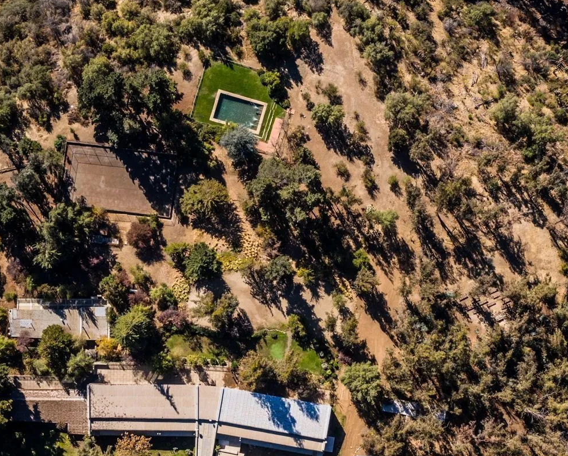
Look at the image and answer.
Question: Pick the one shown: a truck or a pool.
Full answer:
This aerial view contains a pool.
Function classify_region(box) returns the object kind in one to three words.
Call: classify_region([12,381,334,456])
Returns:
building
